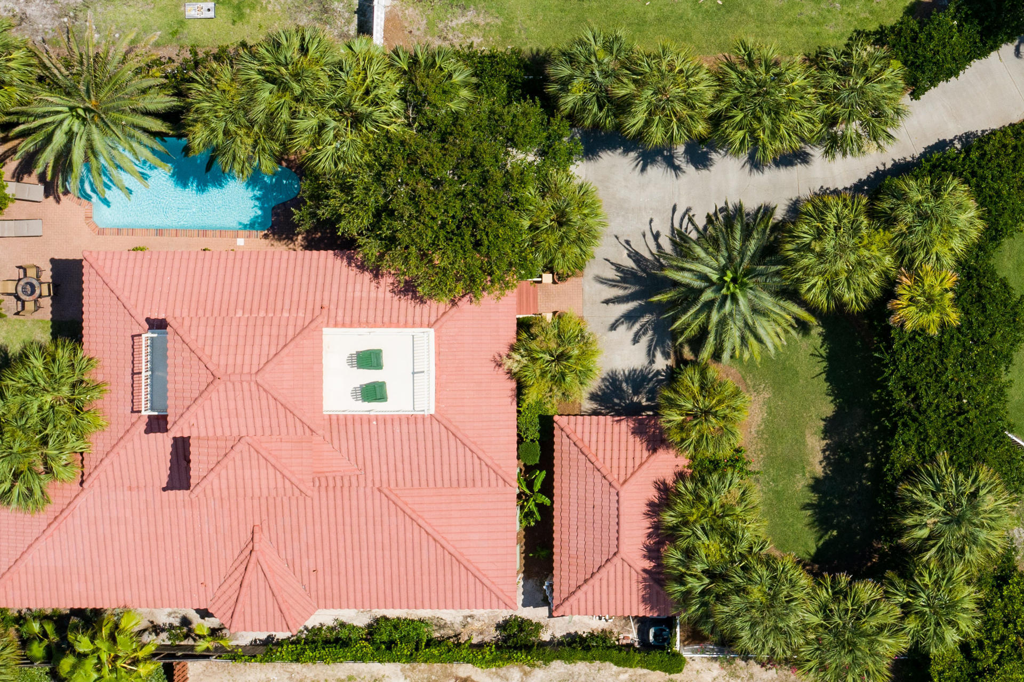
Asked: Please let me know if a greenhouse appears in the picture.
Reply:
No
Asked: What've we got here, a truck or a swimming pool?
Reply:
swimming pool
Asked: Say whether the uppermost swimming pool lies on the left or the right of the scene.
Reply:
left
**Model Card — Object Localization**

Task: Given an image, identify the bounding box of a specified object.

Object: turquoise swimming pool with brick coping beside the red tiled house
[59,129,307,238]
